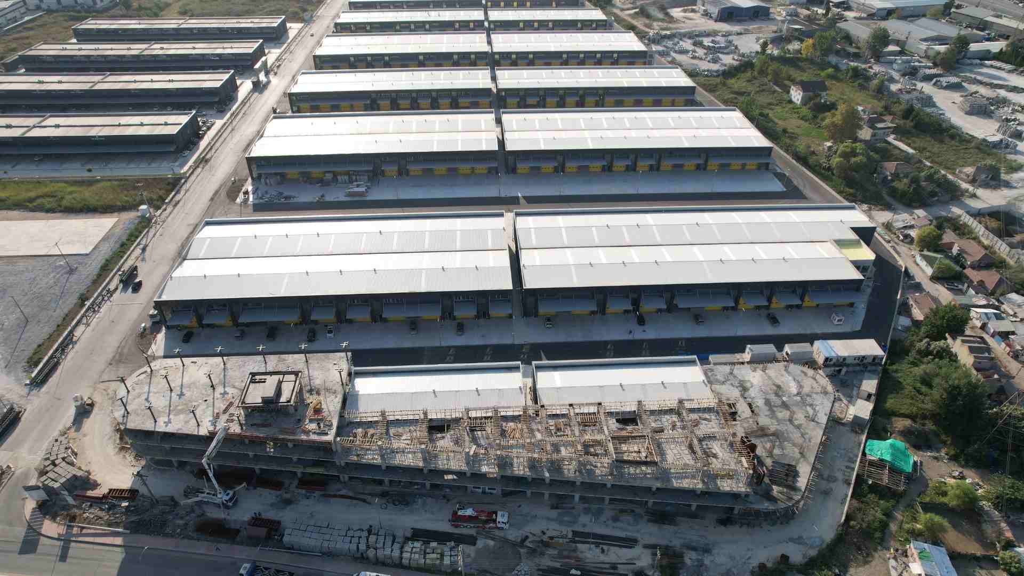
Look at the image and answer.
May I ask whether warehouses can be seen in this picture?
Yes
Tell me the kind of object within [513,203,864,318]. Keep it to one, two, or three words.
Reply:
warehouse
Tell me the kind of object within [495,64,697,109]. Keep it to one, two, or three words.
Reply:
building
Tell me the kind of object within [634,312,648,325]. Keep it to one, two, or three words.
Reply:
vehicle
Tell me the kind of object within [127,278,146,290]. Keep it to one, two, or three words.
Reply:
vehicle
